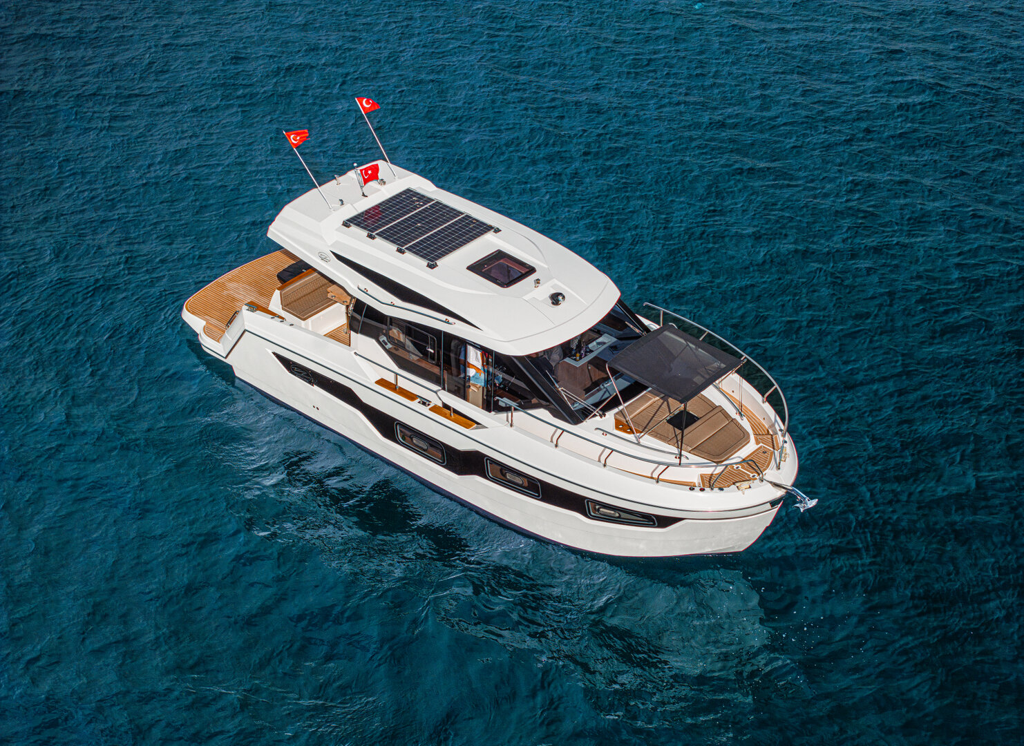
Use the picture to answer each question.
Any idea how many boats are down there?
1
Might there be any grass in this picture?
No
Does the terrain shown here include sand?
No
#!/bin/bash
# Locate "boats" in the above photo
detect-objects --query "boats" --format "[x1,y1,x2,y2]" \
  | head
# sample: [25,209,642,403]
[184,160,818,561]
